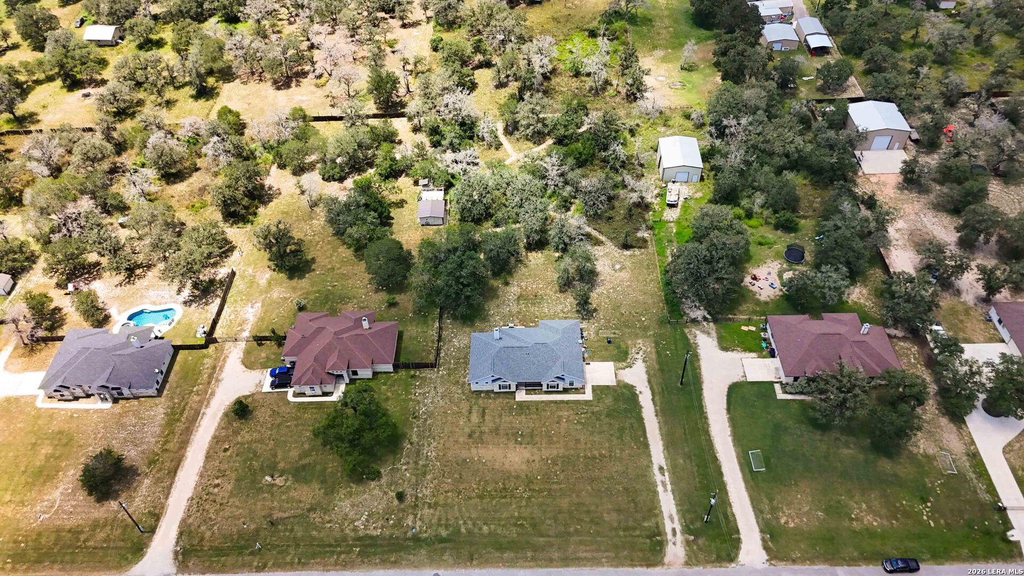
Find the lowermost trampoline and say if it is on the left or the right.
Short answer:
right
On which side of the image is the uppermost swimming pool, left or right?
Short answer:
left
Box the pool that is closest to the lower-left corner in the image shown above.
[112,303,183,340]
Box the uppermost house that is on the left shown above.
[80,23,126,47]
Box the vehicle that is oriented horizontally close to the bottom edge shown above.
[878,558,923,575]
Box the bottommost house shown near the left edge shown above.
[39,326,174,402]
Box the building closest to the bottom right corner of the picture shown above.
[990,301,1024,362]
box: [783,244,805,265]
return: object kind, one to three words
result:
trampoline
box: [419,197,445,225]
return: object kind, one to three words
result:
shed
